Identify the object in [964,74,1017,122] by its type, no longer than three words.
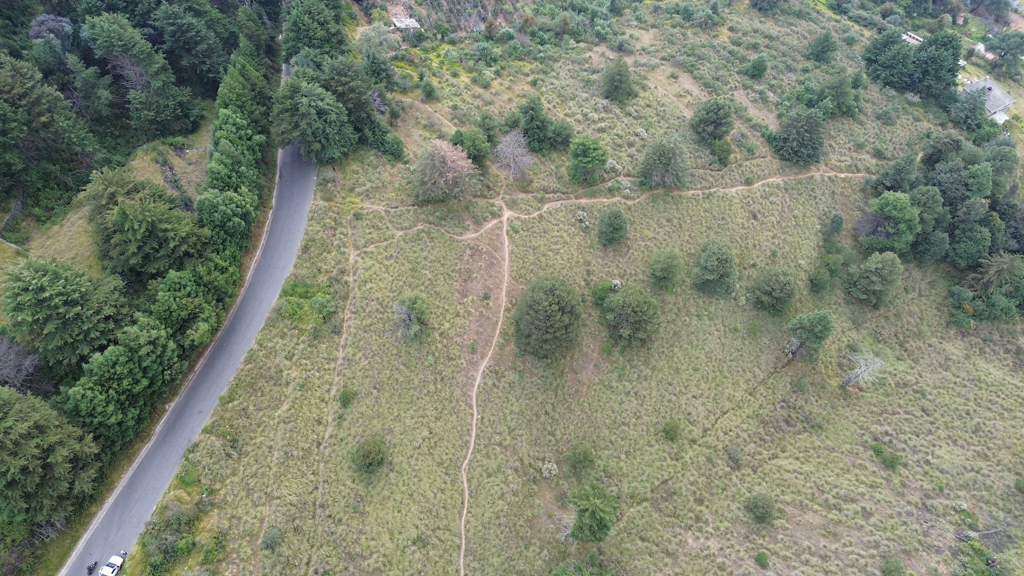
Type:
house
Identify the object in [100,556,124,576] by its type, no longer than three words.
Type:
vehicle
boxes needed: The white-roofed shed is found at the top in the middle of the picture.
[394,18,422,36]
